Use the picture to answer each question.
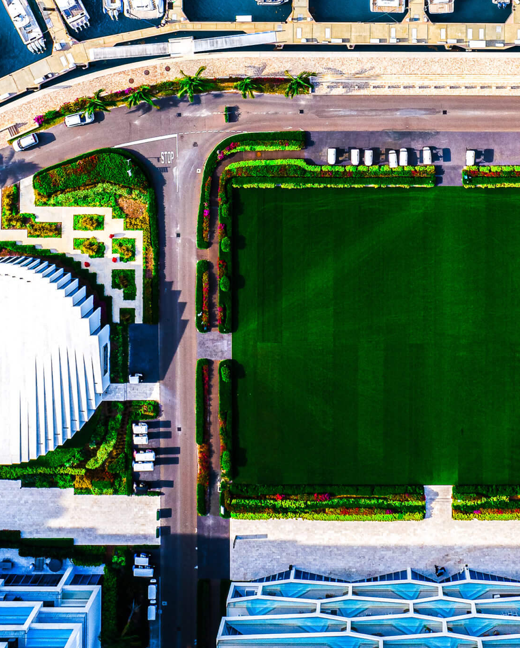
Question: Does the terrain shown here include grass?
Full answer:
Yes, some grass is visible.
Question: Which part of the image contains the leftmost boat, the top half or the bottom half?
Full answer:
It is in the top half that the leftmost boat appears.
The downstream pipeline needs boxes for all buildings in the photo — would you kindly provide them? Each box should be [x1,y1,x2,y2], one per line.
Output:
[0,566,118,648]
[0,254,110,467]
[216,564,520,648]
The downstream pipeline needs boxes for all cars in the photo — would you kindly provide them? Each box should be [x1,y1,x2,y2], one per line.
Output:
[64,111,96,127]
[12,131,42,152]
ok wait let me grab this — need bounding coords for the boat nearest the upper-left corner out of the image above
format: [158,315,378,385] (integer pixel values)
[5,0,45,51]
